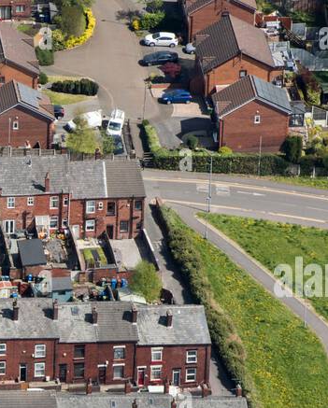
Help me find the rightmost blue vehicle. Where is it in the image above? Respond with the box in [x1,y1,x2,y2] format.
[160,88,193,103]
